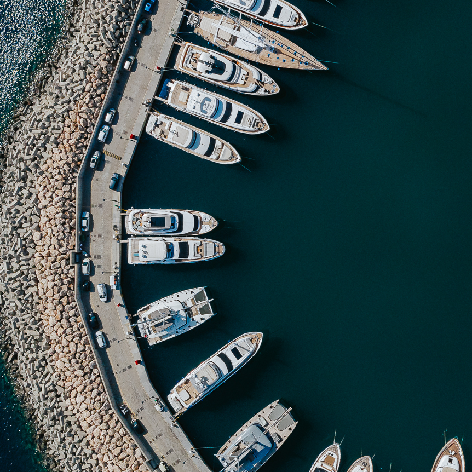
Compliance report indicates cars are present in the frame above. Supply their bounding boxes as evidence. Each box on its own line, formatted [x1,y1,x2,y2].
[83,278,93,293]
[95,330,108,349]
[89,311,100,330]
[89,150,102,170]
[104,107,117,125]
[97,125,112,143]
[81,212,91,231]
[108,172,122,191]
[96,283,108,302]
[137,16,150,35]
[130,416,145,435]
[123,53,136,71]
[145,0,157,15]
[82,258,92,275]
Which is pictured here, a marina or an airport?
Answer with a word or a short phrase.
marina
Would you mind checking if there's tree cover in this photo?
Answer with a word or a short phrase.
No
